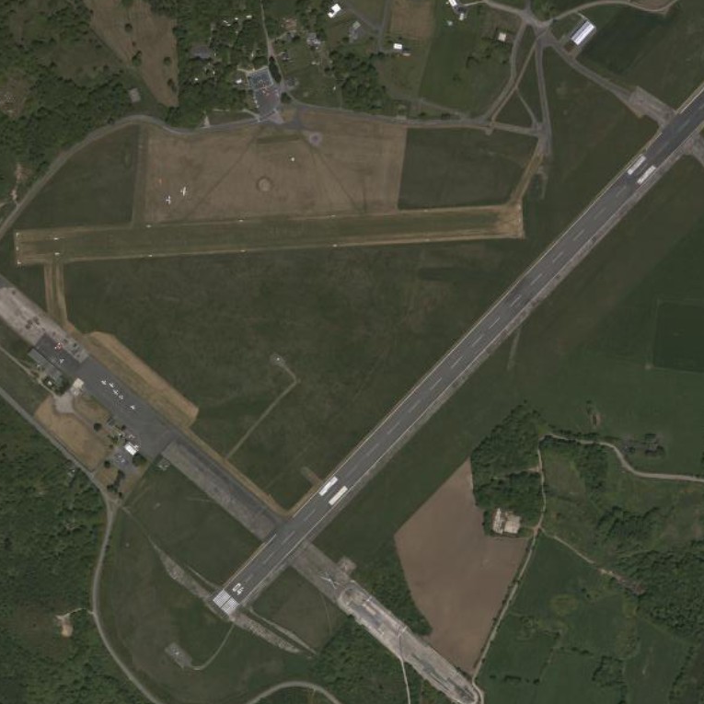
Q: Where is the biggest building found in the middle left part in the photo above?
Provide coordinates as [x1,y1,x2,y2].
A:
[28,349,62,380]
